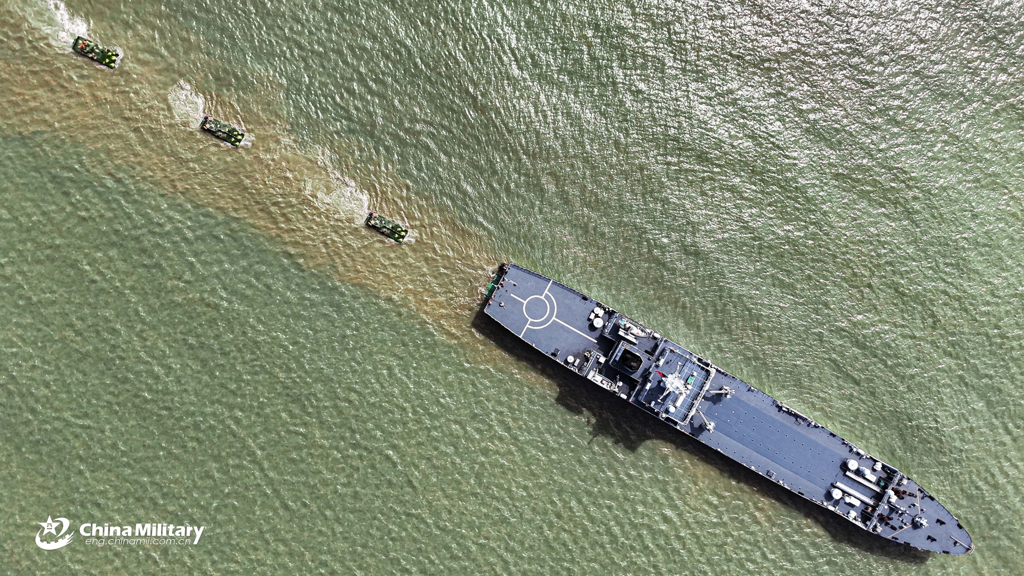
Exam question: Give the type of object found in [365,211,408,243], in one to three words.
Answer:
vehicle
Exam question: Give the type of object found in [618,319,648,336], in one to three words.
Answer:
boat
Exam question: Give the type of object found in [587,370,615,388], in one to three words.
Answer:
boat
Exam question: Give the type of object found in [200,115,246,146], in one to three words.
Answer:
vehicle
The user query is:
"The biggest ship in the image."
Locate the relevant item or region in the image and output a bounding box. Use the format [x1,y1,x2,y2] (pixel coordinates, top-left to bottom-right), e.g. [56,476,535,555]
[485,263,975,555]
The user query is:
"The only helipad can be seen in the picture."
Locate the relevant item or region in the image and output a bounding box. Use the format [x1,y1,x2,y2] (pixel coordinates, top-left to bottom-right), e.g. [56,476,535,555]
[510,280,597,342]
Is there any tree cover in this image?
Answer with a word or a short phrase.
No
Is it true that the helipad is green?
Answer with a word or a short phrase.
No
